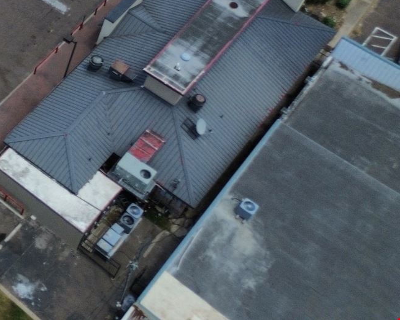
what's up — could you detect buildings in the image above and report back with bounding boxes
[0,0,328,250]
[122,34,400,320]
